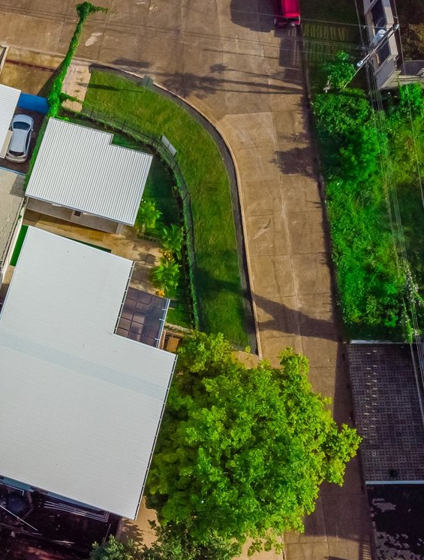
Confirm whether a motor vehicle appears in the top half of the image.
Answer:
Yes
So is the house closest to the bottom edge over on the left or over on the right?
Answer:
left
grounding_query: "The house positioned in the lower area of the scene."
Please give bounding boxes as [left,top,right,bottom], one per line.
[0,224,183,521]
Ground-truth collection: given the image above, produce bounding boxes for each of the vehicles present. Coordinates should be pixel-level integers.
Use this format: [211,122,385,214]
[6,111,35,164]
[275,0,305,29]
